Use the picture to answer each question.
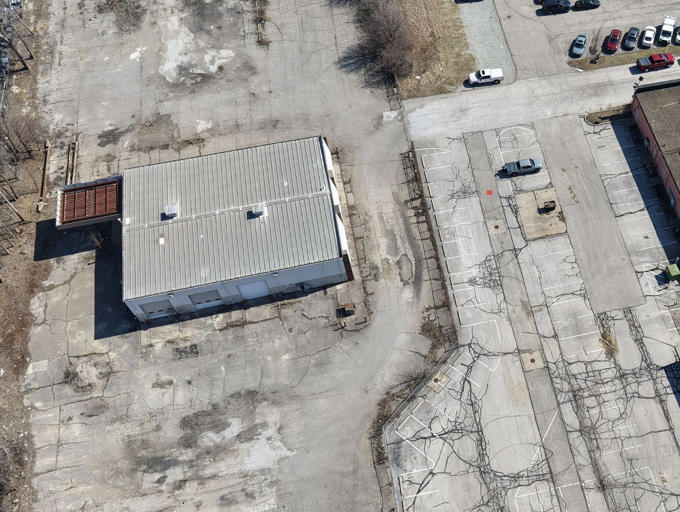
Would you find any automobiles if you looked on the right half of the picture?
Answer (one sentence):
Yes, looking on the right half of the picture, one can make out an automobile.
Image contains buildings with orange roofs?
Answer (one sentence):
No, there isn't any building with an orange roof down there.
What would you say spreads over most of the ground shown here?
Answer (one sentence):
The largest share of the image is taken up by paved ground.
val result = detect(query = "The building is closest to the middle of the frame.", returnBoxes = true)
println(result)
[122,131,355,321]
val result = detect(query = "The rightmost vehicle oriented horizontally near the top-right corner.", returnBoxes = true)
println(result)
[638,53,673,70]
